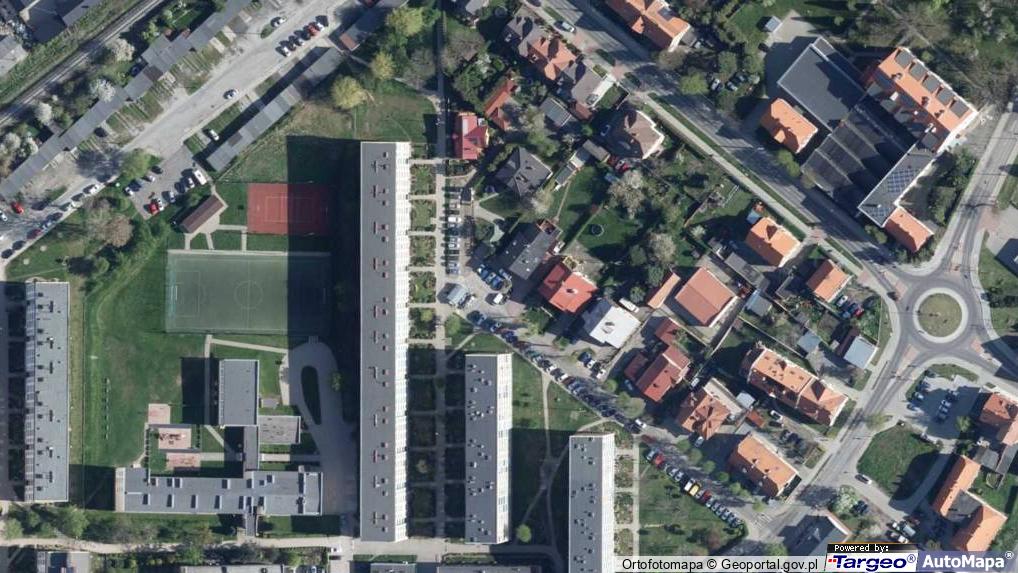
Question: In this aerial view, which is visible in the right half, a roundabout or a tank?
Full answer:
It is a roundabout that can be seen in the right half.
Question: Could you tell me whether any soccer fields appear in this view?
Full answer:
Yes, the photo shows a soccer field.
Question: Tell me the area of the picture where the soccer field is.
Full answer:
The soccer field sits in the left section of the image.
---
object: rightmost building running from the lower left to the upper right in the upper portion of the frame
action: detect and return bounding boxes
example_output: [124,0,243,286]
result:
[860,139,940,227]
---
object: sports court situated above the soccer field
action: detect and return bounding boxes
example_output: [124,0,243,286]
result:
[248,183,328,233]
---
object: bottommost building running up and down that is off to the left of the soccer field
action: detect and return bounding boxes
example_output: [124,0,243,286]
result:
[22,282,76,501]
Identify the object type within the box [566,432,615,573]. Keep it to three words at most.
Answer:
building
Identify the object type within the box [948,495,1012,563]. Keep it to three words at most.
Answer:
house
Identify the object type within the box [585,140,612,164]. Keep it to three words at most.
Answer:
shed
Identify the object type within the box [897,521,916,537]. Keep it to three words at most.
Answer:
vehicle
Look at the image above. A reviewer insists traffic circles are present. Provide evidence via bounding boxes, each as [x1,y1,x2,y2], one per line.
[887,238,1000,379]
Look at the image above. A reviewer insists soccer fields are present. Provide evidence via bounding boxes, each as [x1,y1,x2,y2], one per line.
[165,255,331,335]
